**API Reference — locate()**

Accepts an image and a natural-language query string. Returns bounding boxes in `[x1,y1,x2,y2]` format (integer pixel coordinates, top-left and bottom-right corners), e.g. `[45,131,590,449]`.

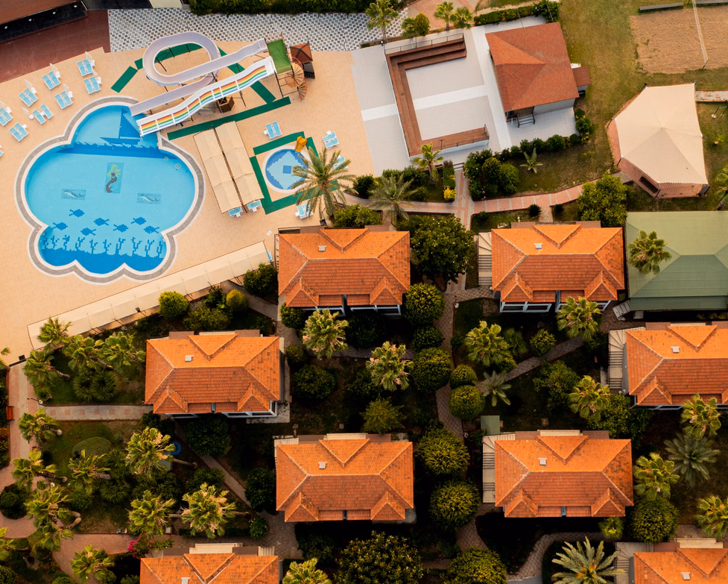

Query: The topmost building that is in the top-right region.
[486,22,591,140]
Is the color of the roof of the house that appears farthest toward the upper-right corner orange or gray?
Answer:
orange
